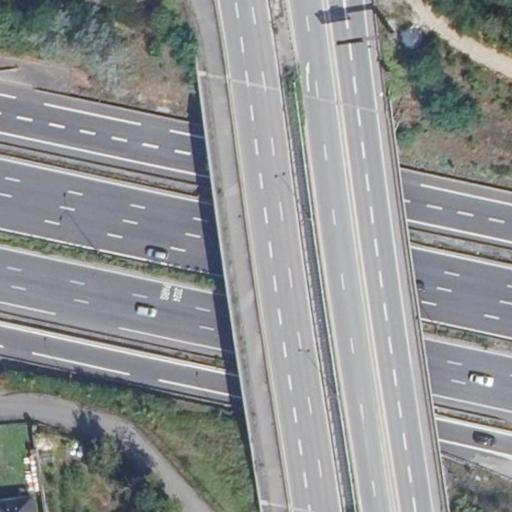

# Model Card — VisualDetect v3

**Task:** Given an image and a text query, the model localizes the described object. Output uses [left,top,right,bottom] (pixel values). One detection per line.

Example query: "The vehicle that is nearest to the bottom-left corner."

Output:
[136,304,158,317]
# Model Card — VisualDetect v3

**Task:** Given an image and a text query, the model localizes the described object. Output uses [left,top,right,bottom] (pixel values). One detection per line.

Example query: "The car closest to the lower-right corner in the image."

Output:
[472,432,496,445]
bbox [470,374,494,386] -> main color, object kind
white vehicle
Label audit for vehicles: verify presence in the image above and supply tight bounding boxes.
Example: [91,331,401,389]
[147,248,168,260]
[416,280,424,290]
[470,374,494,386]
[472,432,496,445]
[136,304,158,317]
